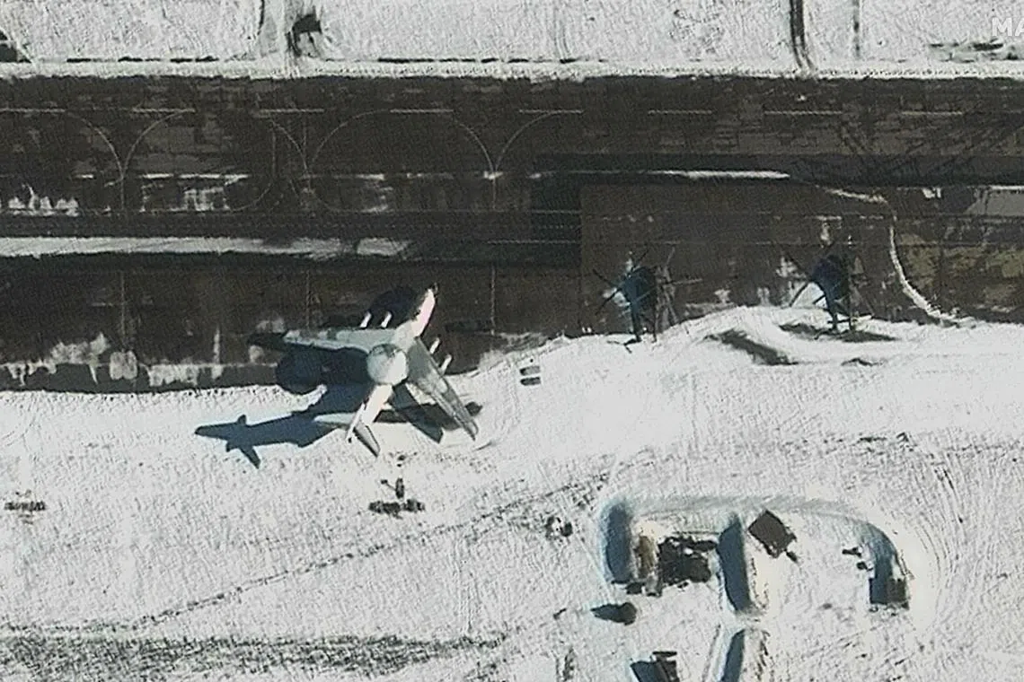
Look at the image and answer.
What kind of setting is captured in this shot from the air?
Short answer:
airport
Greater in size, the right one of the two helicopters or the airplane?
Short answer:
the airplane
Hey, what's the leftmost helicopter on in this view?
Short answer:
apron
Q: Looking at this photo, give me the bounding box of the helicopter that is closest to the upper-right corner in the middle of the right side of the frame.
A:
[815,230,895,332]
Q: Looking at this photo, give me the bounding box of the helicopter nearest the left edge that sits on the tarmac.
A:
[626,242,707,344]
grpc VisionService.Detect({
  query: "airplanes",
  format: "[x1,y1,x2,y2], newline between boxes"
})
[281,281,480,462]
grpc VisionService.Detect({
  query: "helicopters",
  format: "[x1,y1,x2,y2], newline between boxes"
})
[626,242,707,344]
[815,230,895,332]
